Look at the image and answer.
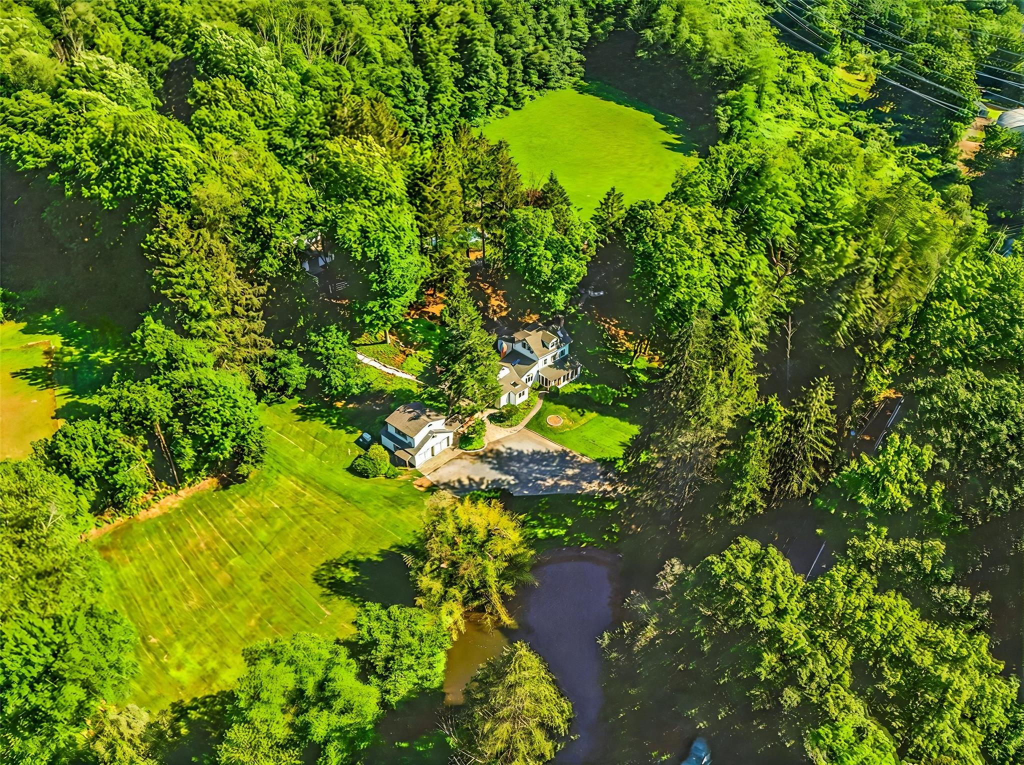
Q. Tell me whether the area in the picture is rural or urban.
rural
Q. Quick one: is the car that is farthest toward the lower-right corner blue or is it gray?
blue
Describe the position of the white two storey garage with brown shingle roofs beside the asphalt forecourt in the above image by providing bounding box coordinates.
[379,397,467,471]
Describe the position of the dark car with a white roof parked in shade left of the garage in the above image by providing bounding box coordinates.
[355,433,378,449]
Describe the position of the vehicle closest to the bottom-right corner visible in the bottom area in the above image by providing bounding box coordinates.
[689,739,713,765]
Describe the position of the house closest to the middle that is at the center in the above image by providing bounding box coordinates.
[485,314,583,408]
